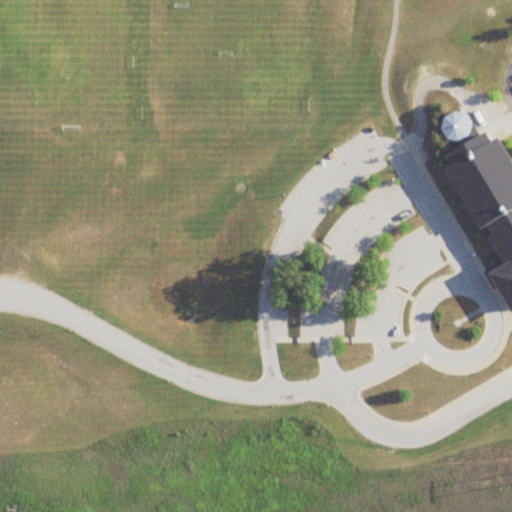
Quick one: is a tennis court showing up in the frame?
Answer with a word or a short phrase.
No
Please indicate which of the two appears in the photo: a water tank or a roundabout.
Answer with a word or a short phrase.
roundabout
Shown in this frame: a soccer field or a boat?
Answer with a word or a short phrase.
soccer field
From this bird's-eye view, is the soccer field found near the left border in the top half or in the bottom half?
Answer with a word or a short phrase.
top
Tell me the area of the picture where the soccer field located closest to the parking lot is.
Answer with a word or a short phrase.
top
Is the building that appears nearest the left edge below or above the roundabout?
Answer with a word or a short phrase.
above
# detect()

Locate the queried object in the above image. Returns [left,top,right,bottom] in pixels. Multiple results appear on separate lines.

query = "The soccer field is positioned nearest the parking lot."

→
[142,70,308,146]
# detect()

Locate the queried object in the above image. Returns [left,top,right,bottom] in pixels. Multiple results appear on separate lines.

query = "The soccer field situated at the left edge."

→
[0,26,131,98]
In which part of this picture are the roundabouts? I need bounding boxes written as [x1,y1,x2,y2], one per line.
[411,278,509,374]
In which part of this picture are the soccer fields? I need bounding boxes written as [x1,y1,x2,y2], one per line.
[142,70,308,146]
[0,26,131,98]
